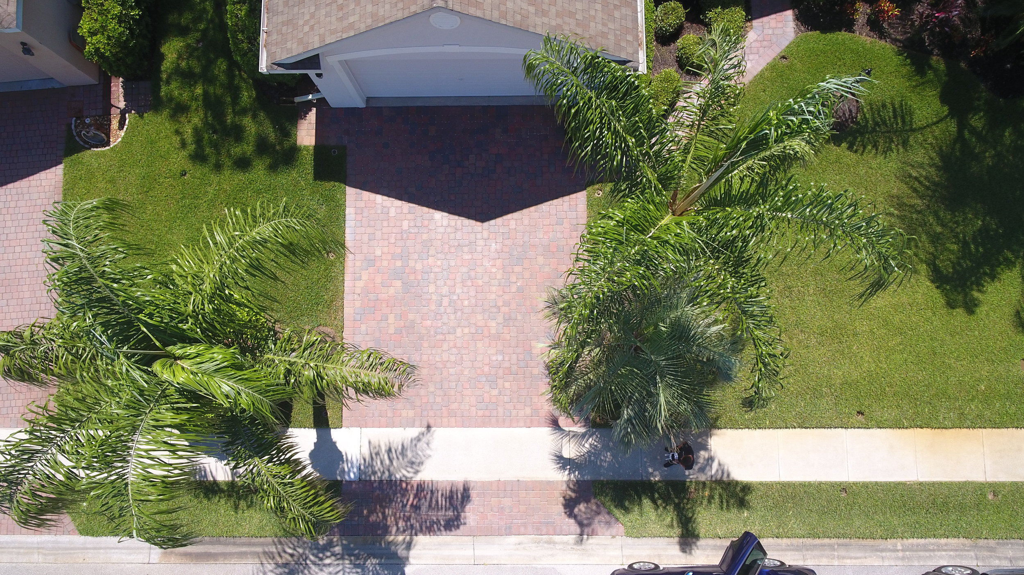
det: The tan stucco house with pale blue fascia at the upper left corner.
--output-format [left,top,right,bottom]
[0,0,99,89]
